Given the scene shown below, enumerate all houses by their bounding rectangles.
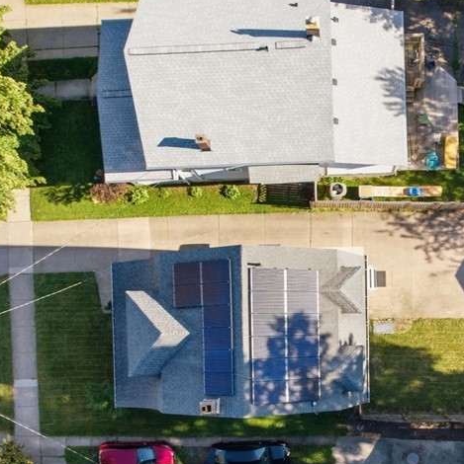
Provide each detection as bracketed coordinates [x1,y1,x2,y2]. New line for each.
[110,246,385,417]
[97,0,405,194]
